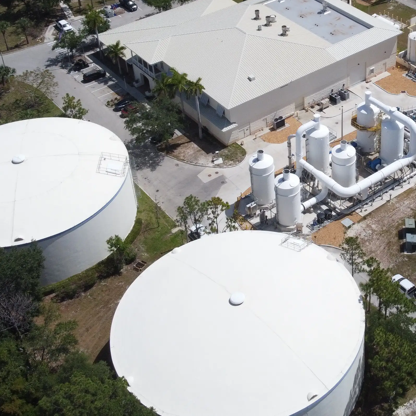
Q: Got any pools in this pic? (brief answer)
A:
No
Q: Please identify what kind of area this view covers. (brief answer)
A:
industrial area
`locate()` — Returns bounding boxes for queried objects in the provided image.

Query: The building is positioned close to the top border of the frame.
[99,0,406,147]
